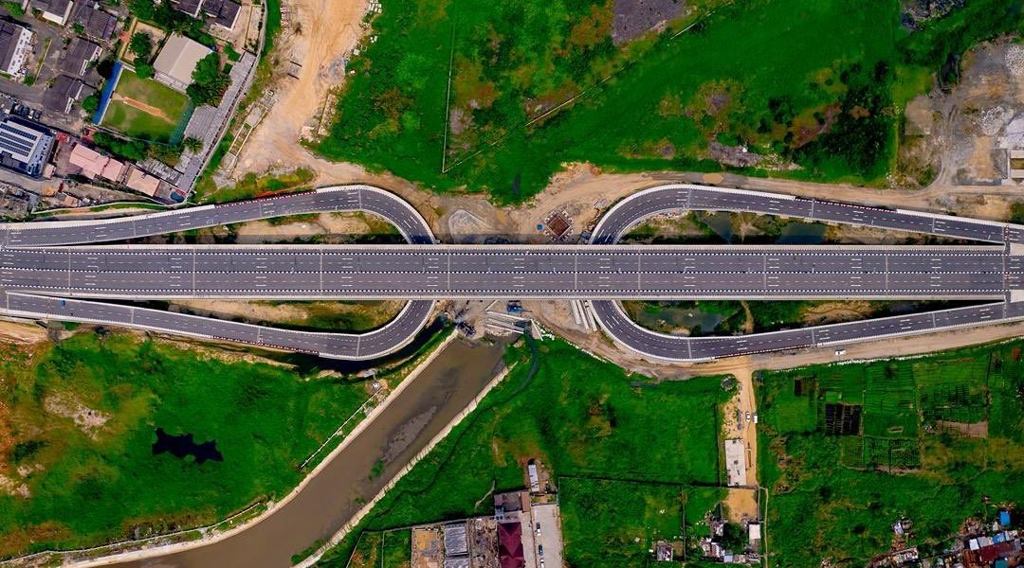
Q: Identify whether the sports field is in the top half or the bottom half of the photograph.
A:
top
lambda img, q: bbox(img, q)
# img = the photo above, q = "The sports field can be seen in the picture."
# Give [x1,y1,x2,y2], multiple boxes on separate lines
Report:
[104,69,194,143]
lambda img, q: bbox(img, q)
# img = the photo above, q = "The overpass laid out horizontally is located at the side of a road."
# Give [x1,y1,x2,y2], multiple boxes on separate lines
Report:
[0,224,1024,321]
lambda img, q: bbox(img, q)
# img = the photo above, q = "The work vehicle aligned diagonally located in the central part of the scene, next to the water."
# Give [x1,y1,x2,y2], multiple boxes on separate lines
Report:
[454,314,474,337]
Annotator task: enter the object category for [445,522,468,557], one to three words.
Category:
house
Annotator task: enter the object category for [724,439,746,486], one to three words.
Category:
building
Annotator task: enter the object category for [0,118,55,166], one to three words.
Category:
building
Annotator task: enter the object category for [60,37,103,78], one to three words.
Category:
house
